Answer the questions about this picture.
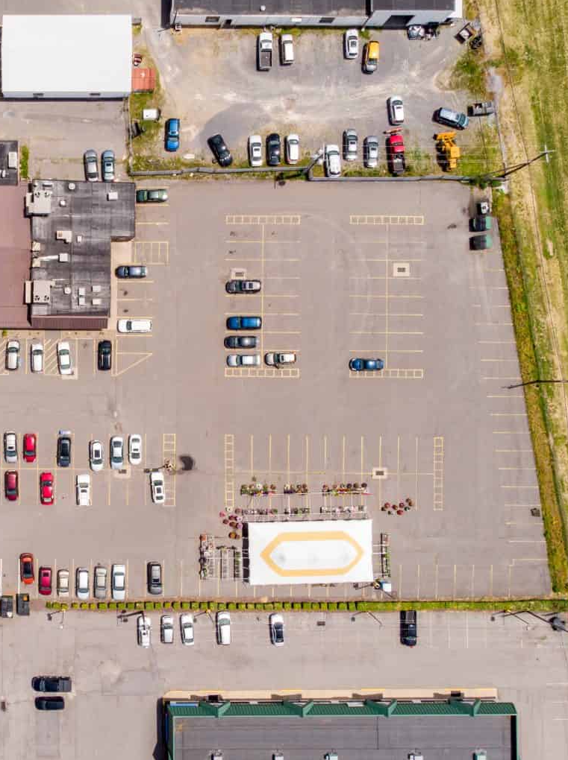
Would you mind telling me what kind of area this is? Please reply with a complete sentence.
The picture captures a parking lot.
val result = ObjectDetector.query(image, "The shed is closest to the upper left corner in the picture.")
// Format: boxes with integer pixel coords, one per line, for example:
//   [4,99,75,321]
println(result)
[2,15,132,98]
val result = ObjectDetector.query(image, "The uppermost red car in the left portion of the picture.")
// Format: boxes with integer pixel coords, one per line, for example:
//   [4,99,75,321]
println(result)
[22,432,36,462]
